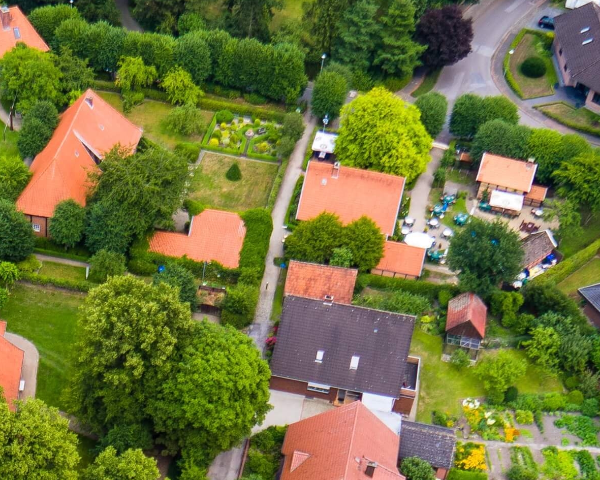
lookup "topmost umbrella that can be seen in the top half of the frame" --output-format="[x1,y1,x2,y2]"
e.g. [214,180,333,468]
[314,135,335,158]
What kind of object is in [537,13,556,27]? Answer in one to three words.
car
